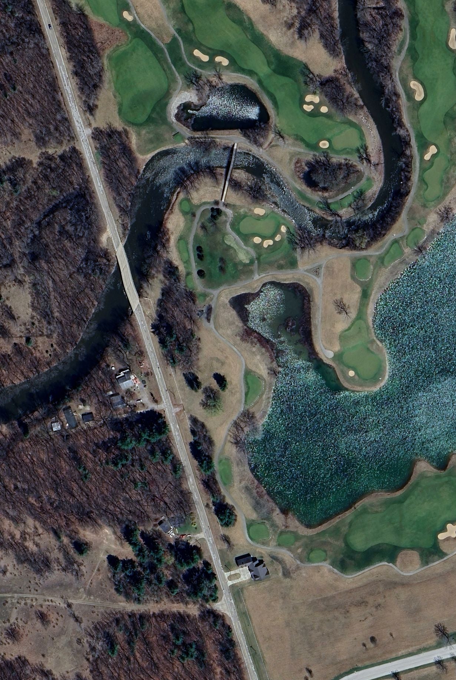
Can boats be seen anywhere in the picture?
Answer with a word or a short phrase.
No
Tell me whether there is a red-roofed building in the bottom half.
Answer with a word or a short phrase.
No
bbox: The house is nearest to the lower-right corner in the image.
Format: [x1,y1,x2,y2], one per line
[236,555,270,583]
